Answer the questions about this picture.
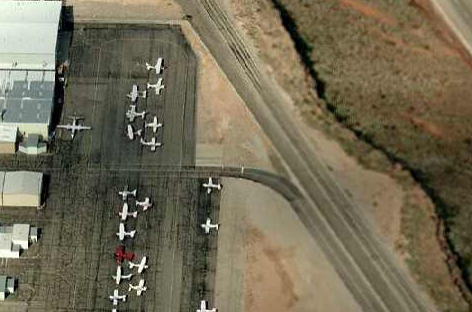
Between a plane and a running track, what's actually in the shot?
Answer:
plane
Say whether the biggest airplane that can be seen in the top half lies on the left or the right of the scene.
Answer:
left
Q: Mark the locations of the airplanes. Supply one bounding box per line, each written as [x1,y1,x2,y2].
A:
[146,79,165,93]
[109,290,130,306]
[128,254,148,272]
[112,266,132,283]
[140,137,160,152]
[132,197,153,212]
[126,107,145,122]
[58,111,91,133]
[146,56,164,72]
[119,201,140,218]
[118,186,138,201]
[126,280,147,296]
[142,118,162,132]
[201,219,221,234]
[203,178,223,193]
[115,245,134,262]
[124,123,145,139]
[116,221,136,238]
[196,300,217,312]
[129,84,148,100]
